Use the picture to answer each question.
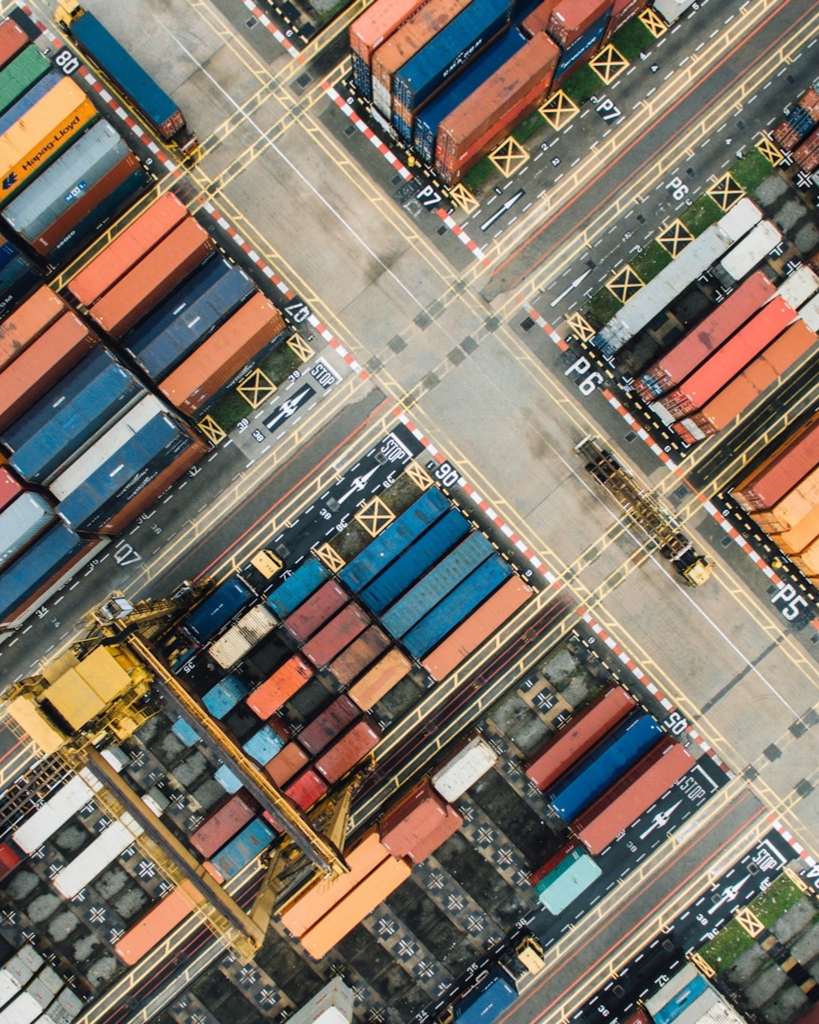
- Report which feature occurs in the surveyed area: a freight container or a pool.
freight container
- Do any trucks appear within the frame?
Yes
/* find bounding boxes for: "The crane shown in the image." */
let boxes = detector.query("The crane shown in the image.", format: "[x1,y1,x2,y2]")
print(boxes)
[2,584,373,973]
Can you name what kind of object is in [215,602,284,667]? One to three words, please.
shipping container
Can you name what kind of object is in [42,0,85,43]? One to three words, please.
truck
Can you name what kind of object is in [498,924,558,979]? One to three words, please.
truck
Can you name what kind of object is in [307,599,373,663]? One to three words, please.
shipping container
